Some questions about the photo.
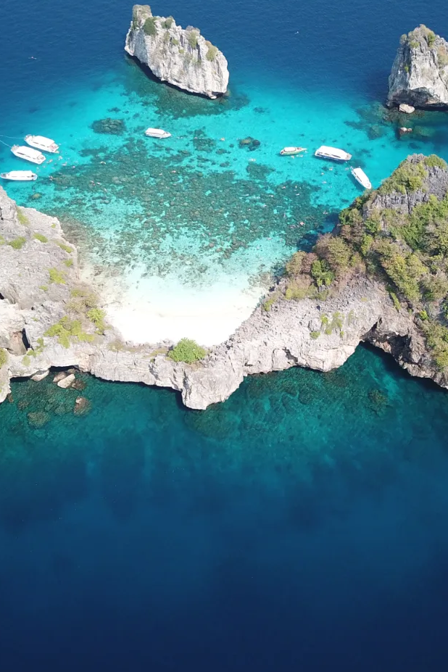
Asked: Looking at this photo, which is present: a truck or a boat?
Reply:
boat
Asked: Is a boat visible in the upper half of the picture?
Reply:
Yes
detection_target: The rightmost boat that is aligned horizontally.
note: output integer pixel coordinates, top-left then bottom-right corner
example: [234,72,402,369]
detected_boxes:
[312,146,351,161]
